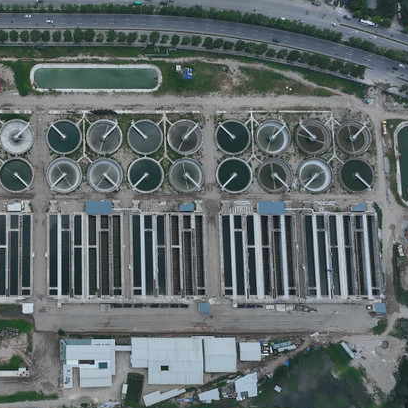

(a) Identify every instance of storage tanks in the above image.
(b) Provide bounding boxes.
[127,157,164,194]
[214,120,250,156]
[167,120,203,156]
[296,157,334,194]
[253,120,290,156]
[127,120,164,156]
[46,119,83,156]
[337,158,375,195]
[334,121,372,156]
[86,120,122,156]
[0,157,35,194]
[46,157,83,194]
[0,119,34,156]
[293,120,331,156]
[255,157,293,194]
[214,157,252,194]
[168,157,204,195]
[87,157,123,194]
